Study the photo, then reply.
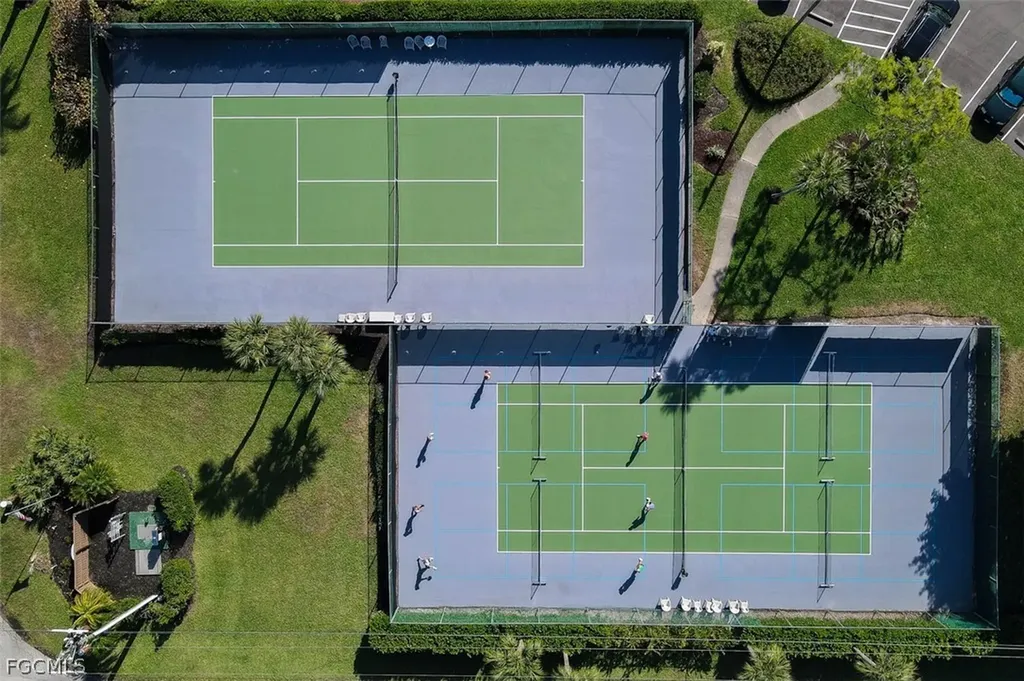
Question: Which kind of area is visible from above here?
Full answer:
What you see here is a sports ground.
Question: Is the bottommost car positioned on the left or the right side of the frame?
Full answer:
The bottommost car is on the right side of the image.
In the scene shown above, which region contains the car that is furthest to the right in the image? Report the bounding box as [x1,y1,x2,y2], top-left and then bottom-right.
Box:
[979,56,1024,130]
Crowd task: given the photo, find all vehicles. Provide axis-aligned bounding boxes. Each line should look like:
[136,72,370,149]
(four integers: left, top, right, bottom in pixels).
[893,0,961,67]
[979,56,1024,130]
